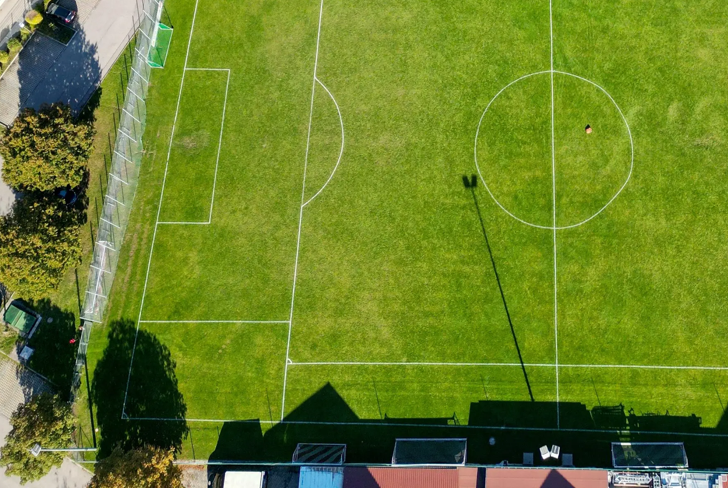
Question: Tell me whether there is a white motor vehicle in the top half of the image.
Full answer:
No, no white motor vehicle appears in the top half of the image.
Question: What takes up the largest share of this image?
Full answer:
For the most part, this view shows grass.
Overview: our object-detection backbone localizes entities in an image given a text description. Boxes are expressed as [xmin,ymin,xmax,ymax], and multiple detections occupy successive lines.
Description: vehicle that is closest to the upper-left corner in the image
[43,4,79,26]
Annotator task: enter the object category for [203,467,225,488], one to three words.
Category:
car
